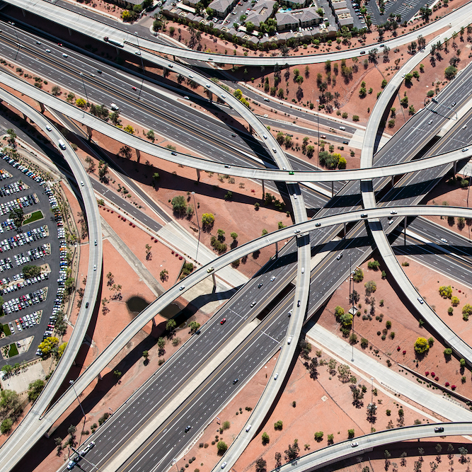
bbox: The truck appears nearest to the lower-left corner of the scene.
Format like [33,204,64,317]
[71,444,93,466]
